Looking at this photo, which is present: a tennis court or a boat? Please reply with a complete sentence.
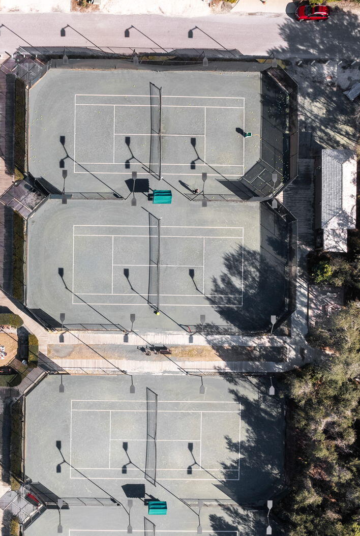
The image shows a tennis court.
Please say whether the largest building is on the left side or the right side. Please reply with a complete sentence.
It is on the right.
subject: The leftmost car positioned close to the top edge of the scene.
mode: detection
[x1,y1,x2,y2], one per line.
[295,3,329,22]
